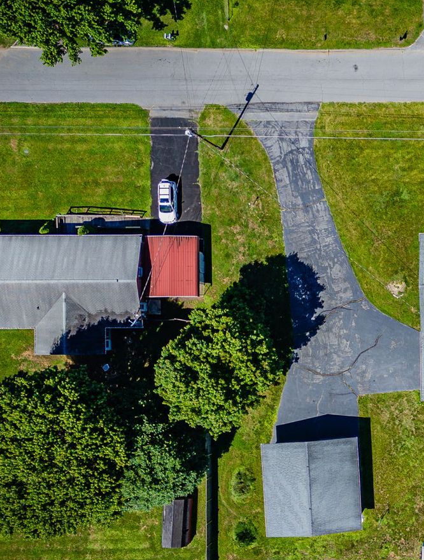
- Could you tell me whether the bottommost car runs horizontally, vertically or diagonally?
vertically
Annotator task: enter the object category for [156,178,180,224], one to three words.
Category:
car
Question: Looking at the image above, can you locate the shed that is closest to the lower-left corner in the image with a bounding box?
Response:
[165,494,193,547]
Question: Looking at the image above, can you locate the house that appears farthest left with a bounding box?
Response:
[0,235,150,355]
